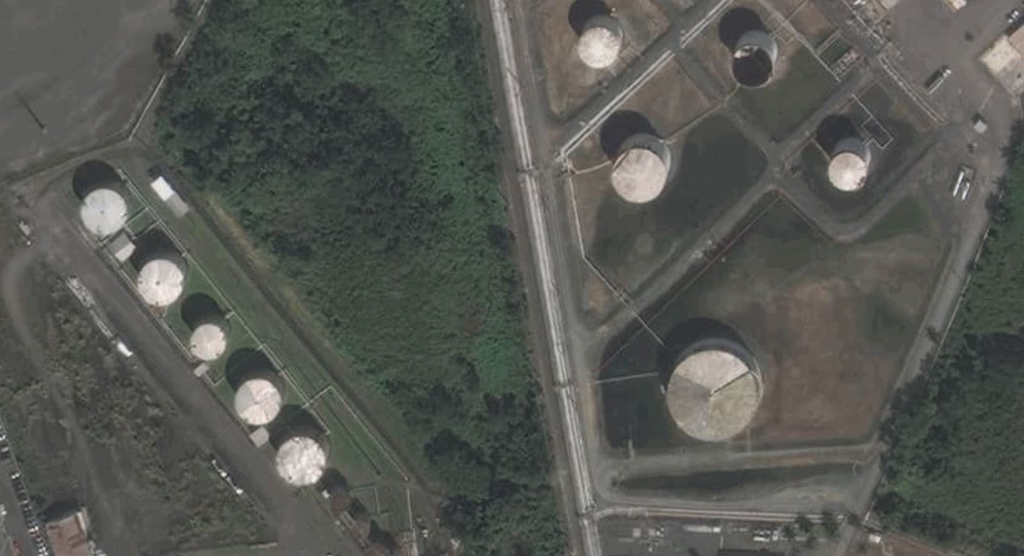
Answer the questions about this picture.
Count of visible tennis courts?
zero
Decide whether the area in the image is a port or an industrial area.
industrial area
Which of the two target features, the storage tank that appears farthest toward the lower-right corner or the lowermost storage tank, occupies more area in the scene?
the storage tank that appears farthest toward the lower-right corner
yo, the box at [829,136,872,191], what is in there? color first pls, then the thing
white storage tank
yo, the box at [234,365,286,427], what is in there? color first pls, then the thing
white storage tank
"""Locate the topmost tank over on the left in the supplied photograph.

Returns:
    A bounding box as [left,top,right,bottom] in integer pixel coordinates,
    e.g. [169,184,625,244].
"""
[79,176,132,237]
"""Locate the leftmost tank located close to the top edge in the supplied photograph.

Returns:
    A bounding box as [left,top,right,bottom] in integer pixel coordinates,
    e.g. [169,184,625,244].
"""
[578,12,624,68]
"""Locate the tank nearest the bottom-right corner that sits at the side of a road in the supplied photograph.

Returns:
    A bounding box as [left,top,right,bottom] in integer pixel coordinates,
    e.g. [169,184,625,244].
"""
[668,336,764,443]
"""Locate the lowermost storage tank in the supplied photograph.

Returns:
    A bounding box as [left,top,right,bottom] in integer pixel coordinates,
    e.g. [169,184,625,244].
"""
[276,423,330,488]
